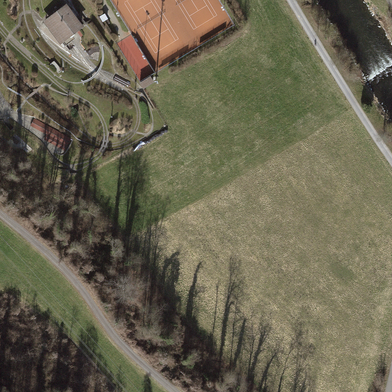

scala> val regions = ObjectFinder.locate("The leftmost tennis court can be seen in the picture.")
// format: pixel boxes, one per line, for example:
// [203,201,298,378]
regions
[112,0,196,71]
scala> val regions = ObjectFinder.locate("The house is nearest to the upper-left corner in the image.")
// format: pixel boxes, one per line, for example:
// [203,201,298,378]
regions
[44,3,83,42]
